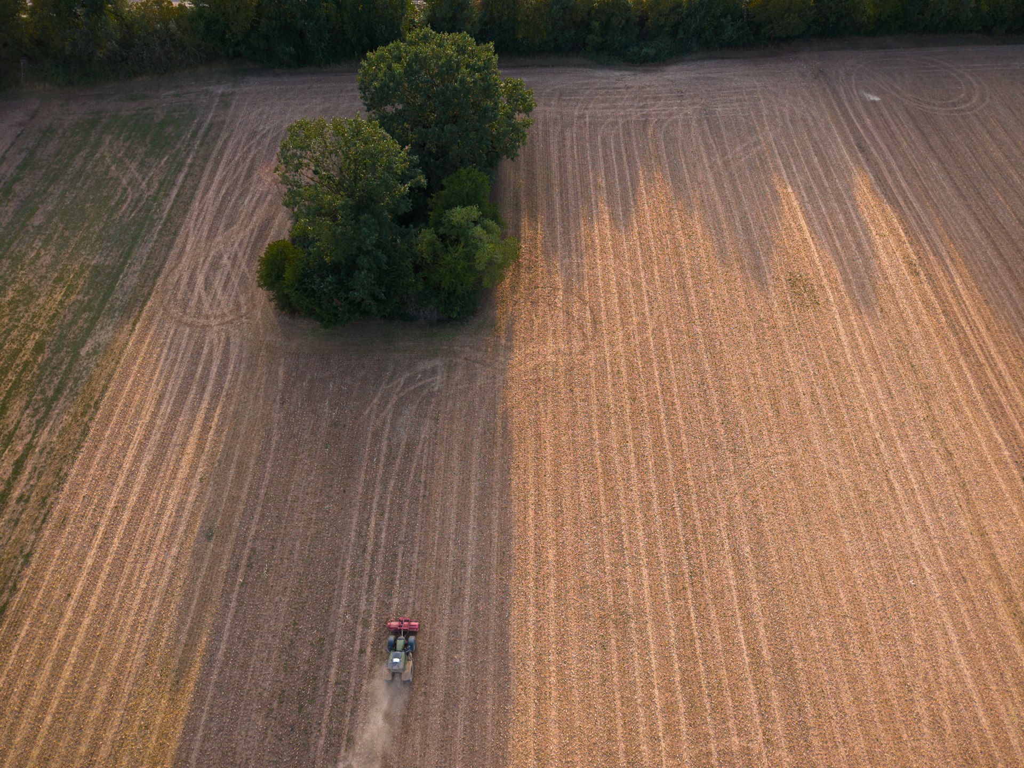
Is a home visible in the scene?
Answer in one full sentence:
No, the frame has no home in it.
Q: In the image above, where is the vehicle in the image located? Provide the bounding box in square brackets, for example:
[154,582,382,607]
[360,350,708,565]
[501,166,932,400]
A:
[379,615,417,685]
